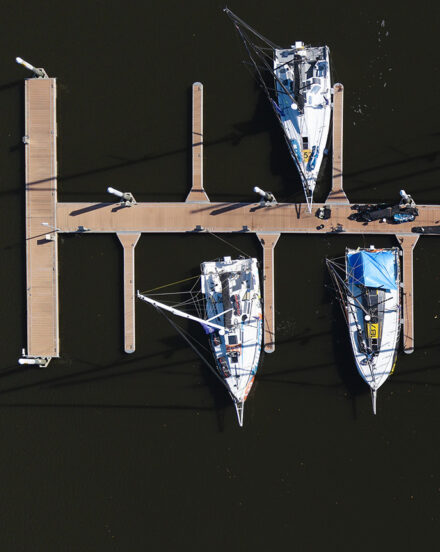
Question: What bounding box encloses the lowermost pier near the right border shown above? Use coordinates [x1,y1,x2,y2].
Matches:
[395,234,419,353]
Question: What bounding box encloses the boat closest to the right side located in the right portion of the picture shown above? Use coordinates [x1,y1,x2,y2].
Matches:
[326,243,400,414]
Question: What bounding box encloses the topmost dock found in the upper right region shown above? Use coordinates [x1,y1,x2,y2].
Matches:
[326,86,350,204]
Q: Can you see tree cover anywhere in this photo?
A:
No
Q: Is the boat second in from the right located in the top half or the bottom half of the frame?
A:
top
